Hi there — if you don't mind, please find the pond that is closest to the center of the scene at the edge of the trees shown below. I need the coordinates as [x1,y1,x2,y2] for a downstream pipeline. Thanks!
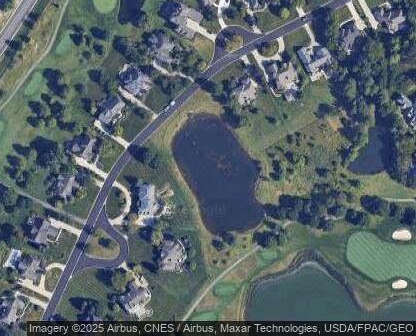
[172,112,266,233]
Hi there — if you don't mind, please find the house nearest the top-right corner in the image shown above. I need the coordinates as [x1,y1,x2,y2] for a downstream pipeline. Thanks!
[372,5,409,36]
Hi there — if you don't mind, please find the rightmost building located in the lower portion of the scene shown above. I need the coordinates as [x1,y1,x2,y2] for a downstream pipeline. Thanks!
[156,236,191,272]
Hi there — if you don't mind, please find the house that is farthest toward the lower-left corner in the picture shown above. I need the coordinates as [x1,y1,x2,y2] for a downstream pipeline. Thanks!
[0,291,30,325]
